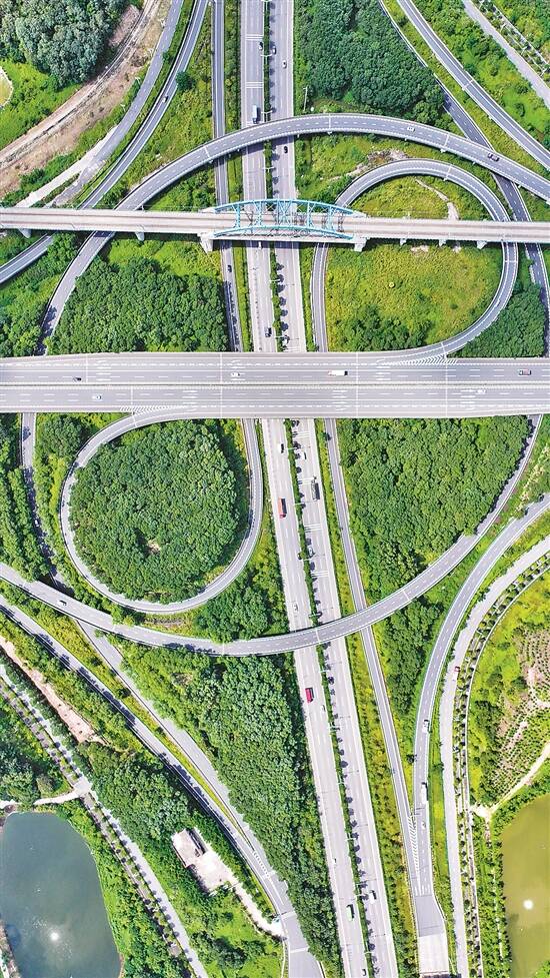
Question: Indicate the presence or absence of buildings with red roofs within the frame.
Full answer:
No, I can see no building with a red roof in this picture.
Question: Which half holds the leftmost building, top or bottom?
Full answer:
The bottom half of the photo is where the leftmost building is.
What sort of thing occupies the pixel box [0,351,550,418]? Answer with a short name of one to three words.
bridge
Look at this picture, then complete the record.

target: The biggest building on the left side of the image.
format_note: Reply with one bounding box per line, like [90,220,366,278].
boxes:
[173,825,211,867]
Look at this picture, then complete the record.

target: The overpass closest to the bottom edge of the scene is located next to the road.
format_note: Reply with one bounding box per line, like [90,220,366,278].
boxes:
[0,448,534,657]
